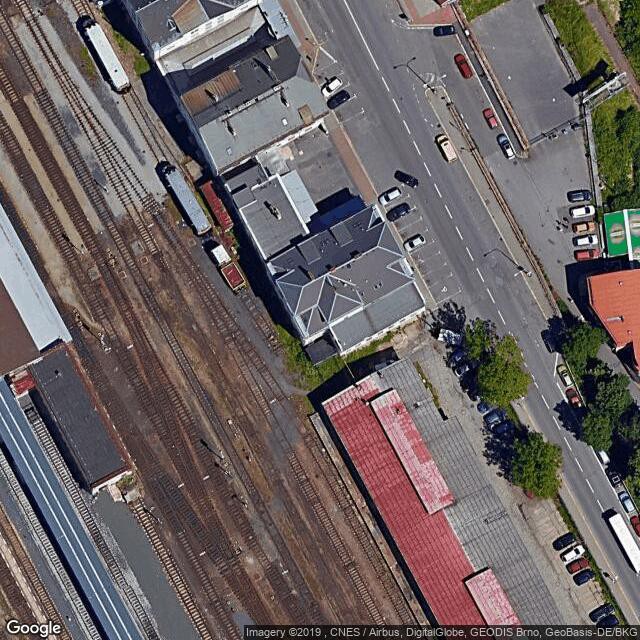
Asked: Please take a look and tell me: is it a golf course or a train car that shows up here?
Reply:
train car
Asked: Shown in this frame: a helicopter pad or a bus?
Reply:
bus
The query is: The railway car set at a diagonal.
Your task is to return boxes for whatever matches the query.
[198,182,235,234]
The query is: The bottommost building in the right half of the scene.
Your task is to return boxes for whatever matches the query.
[322,358,577,640]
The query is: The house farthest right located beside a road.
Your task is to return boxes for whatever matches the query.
[587,268,640,379]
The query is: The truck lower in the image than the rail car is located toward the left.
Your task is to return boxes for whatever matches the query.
[209,242,244,293]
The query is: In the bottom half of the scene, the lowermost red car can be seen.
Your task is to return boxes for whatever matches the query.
[568,557,589,574]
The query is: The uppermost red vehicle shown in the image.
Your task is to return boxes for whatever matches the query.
[456,54,471,78]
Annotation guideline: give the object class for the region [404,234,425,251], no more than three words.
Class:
car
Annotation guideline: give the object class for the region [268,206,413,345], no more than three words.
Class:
building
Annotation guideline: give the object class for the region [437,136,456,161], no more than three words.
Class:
vehicle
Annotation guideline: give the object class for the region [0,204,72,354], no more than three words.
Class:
shed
